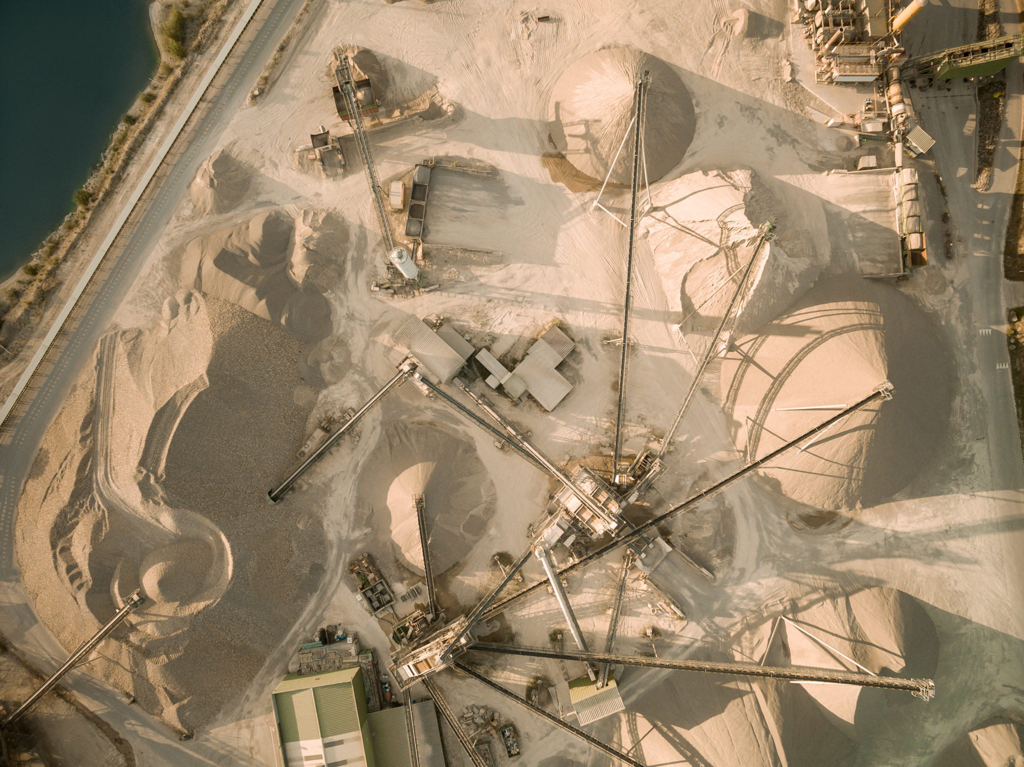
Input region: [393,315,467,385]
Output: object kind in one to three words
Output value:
building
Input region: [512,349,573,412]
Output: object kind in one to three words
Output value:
building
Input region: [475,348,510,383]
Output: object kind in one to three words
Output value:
shed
